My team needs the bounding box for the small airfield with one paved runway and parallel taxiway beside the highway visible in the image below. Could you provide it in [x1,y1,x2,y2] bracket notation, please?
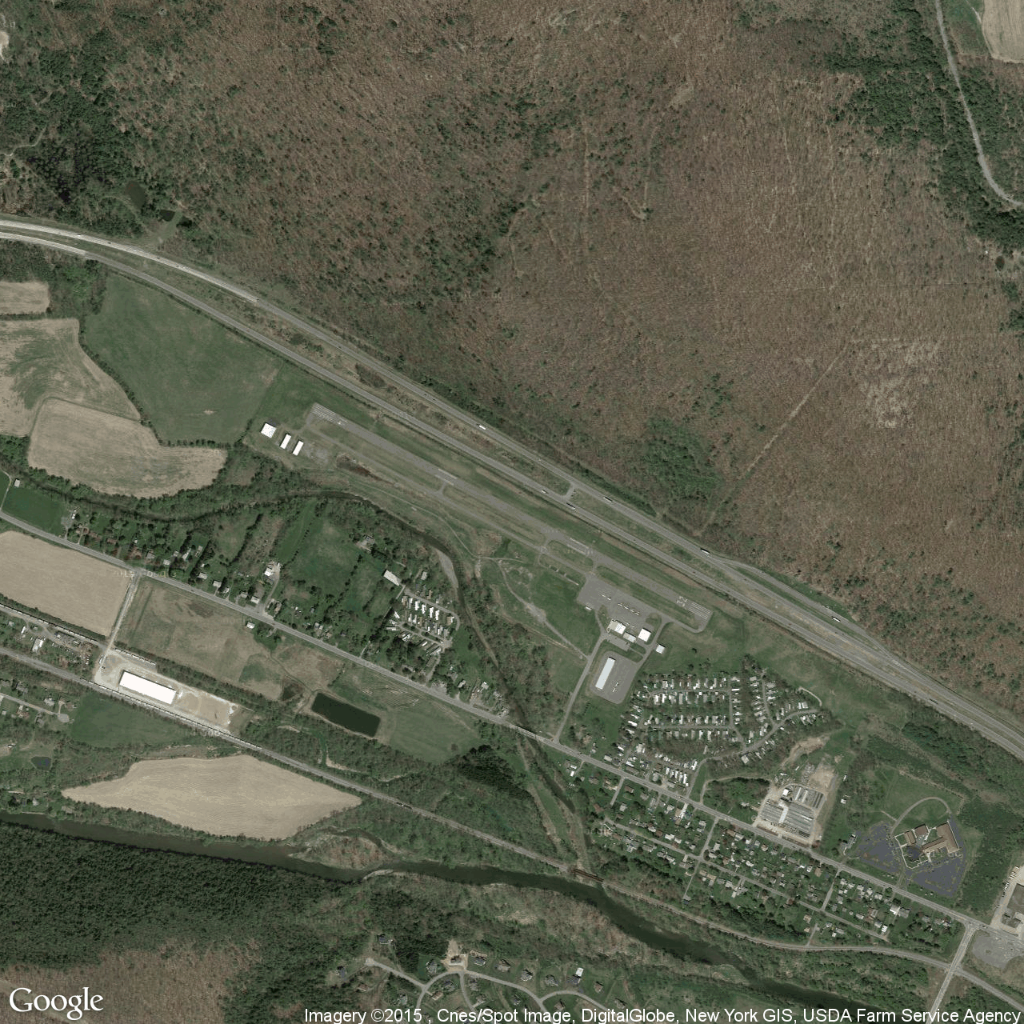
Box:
[267,402,712,703]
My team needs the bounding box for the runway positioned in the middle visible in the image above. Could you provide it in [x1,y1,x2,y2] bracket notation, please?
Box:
[311,402,712,621]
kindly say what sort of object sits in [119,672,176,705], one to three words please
building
